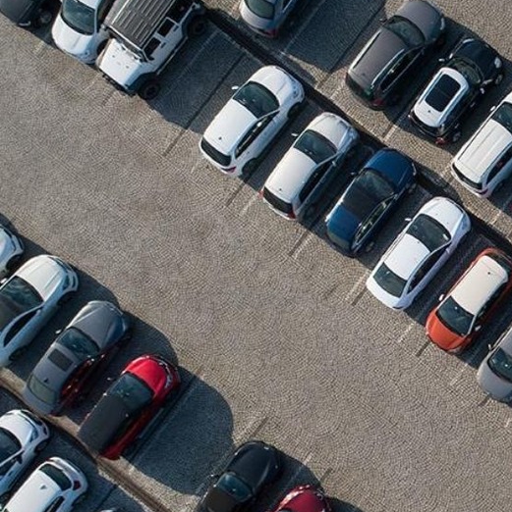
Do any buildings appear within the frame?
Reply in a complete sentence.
No, this view has no building in it.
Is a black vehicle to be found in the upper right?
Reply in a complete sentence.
Yes, the scene does show a black vehicle in the upper right.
